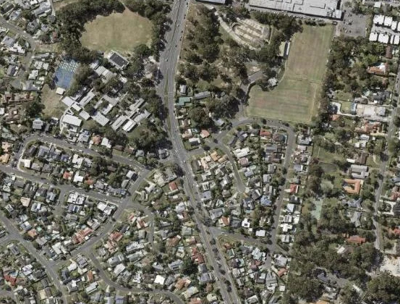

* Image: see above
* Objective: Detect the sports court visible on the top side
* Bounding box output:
[54,60,78,89]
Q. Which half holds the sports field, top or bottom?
top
